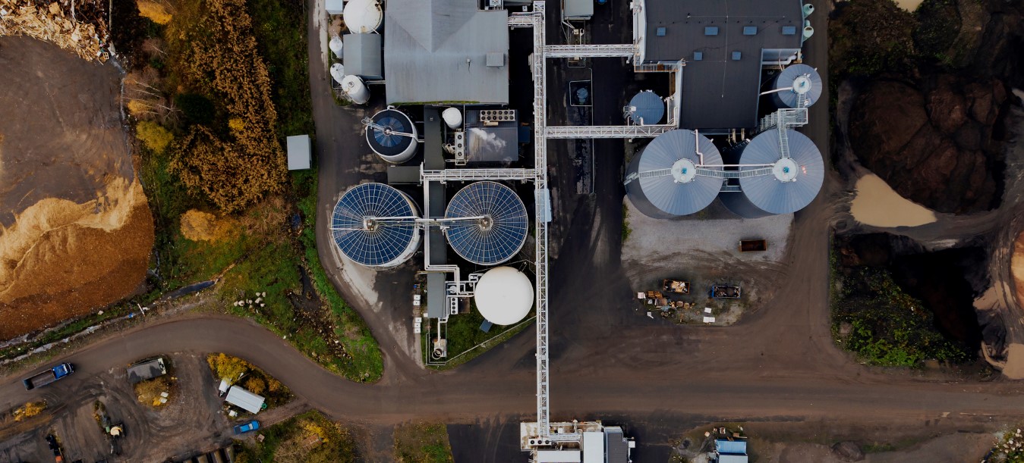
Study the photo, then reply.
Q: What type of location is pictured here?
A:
industrial area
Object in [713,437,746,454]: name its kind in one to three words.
shed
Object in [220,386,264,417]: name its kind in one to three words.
trailer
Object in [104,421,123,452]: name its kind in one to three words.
work vehicle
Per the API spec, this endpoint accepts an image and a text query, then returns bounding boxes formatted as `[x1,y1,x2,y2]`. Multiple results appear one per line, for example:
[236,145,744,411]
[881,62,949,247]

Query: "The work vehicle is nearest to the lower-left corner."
[44,435,65,463]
